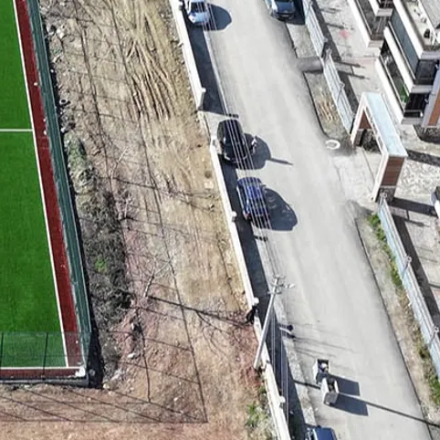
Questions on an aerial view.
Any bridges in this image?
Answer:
No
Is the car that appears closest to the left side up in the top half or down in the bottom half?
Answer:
top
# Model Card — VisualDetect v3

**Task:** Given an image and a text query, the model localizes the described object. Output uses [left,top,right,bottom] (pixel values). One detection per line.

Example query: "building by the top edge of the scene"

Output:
[342,0,440,135]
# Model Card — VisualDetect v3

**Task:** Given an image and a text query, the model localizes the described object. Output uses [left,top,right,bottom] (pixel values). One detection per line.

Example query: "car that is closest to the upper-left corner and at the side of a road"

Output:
[181,0,210,23]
